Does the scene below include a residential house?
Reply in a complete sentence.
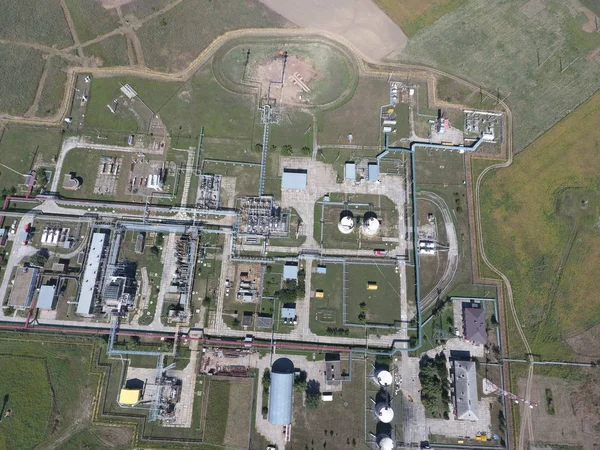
Yes, there's a residential house down there.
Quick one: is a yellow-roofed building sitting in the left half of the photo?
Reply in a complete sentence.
Yes, a yellow-roofed building shows up in the left half of the photo.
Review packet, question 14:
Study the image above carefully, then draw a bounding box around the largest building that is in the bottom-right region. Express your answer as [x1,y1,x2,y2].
[450,360,477,418]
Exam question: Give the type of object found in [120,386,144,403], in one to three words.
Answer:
building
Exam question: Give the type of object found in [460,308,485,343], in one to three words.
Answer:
house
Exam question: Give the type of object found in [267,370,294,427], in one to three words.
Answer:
hangar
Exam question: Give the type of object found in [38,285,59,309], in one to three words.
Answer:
building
